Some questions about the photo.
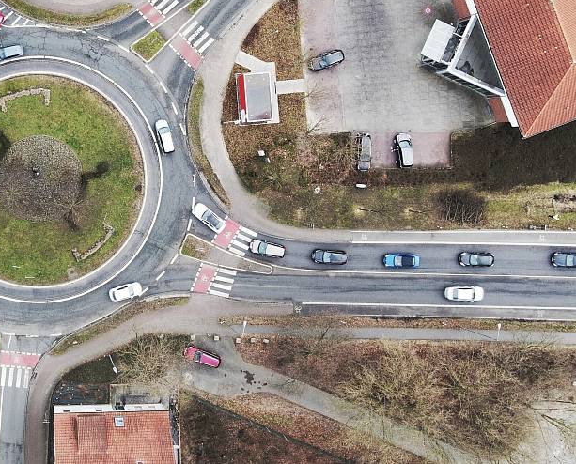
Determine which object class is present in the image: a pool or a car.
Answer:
car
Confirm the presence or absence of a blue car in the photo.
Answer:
Yes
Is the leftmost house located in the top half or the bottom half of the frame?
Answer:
bottom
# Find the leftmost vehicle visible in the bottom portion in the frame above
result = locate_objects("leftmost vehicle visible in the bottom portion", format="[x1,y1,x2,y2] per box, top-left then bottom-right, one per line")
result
[109,280,142,302]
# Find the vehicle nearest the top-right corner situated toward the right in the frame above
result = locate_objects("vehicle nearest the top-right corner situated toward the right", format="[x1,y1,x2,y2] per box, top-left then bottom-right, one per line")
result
[393,134,413,167]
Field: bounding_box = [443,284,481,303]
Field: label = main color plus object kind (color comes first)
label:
white car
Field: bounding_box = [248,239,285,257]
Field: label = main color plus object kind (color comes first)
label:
white car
